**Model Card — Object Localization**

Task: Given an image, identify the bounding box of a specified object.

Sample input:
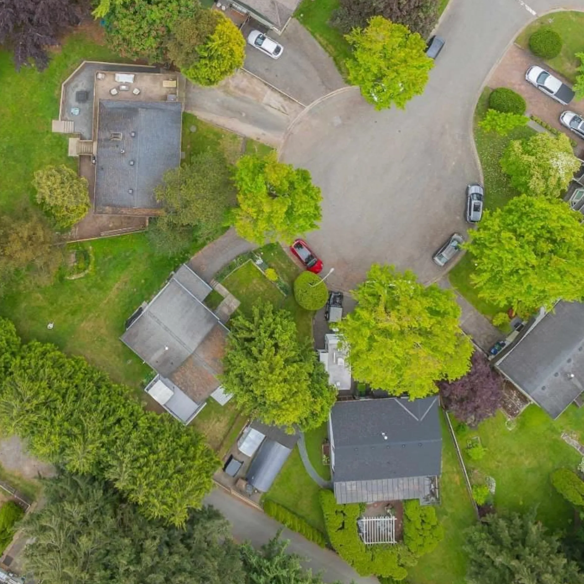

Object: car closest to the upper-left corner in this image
[246,31,286,59]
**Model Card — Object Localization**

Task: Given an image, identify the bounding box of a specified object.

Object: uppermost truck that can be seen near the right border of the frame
[525,66,577,107]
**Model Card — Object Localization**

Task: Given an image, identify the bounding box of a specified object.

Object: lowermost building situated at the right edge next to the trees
[485,310,584,420]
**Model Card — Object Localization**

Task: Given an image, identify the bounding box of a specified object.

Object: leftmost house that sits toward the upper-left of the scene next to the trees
[52,60,186,218]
